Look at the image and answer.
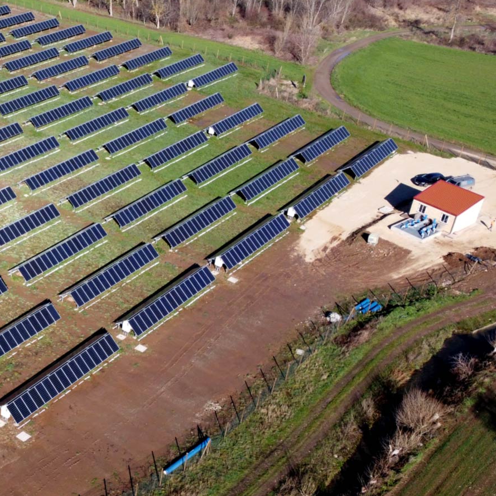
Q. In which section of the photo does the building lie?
right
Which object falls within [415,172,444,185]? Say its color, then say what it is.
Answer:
black vehicle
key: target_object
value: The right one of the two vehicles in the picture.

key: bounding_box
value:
[454,172,484,187]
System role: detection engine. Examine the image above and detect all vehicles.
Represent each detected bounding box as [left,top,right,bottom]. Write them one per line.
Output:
[415,172,444,185]
[454,172,484,187]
